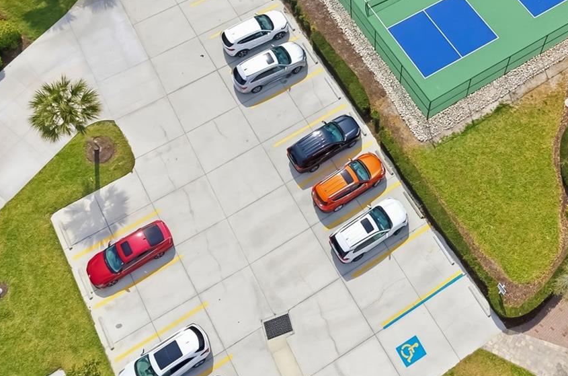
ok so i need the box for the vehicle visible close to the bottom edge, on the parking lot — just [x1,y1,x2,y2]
[122,328,211,376]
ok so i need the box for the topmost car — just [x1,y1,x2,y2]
[222,13,290,59]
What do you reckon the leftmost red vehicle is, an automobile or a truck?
automobile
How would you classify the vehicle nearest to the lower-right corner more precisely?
automobile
